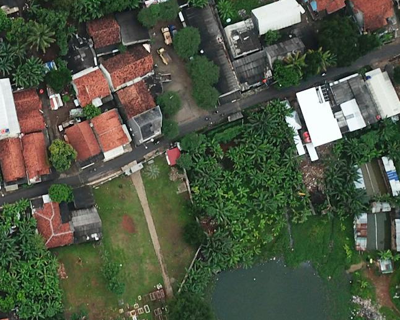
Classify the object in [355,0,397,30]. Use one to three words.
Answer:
house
